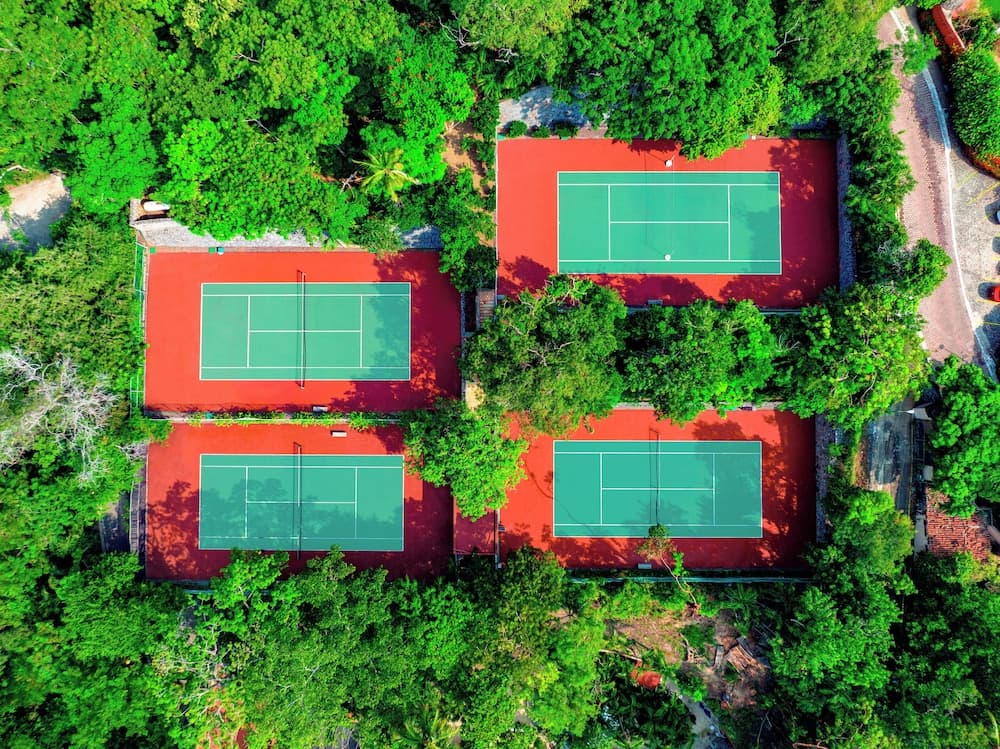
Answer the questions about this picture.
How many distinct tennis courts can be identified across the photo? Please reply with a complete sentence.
My tally gives 4 tennis courts in this view.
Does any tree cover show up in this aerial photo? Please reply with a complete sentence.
Yes, the picture does contain tree cover.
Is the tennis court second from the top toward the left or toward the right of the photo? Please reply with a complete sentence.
The tennis court second from the top is on the left side of the image.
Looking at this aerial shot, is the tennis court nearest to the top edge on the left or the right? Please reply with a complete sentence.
The tennis court nearest to the top edge is on the right side of the image.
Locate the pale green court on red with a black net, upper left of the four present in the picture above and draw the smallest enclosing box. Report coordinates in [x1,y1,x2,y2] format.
[145,251,461,412]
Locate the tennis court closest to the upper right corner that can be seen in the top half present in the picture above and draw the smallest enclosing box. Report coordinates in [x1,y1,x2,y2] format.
[497,139,839,307]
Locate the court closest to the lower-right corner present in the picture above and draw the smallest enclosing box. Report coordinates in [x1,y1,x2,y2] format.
[500,409,815,569]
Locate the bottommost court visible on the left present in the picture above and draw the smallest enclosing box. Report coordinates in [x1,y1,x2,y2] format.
[146,423,452,583]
